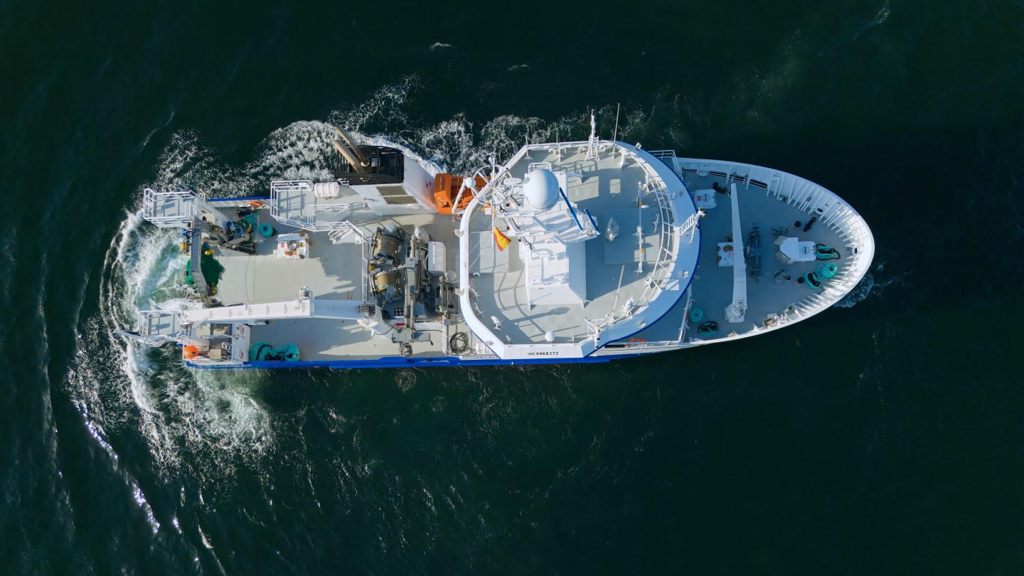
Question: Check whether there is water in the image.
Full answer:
Yes, there is water in the image.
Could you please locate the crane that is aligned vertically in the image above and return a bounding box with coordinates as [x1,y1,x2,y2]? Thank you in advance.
[724,183,752,324]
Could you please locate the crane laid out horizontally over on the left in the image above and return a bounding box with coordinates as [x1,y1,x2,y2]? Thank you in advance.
[180,286,398,340]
